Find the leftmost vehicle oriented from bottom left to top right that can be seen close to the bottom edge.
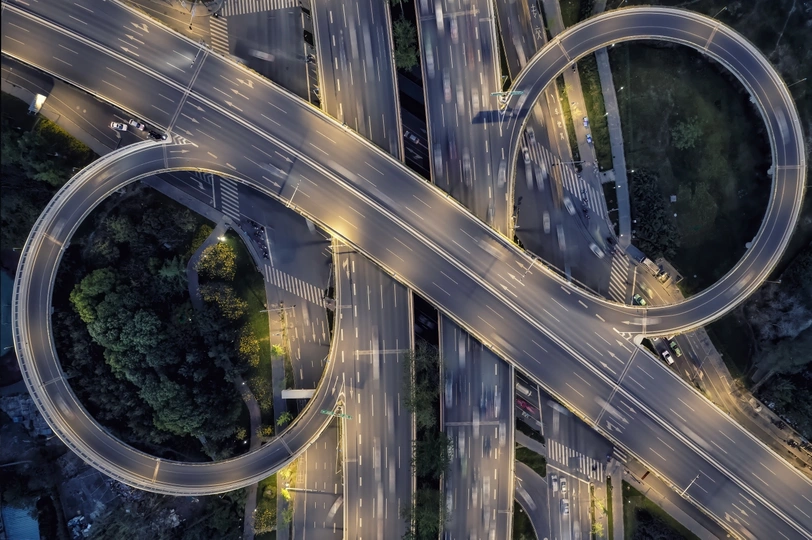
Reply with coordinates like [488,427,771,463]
[326,500,341,519]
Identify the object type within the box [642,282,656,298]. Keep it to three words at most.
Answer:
vehicle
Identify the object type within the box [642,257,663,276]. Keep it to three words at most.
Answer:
vehicle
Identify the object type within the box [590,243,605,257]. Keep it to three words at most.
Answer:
car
